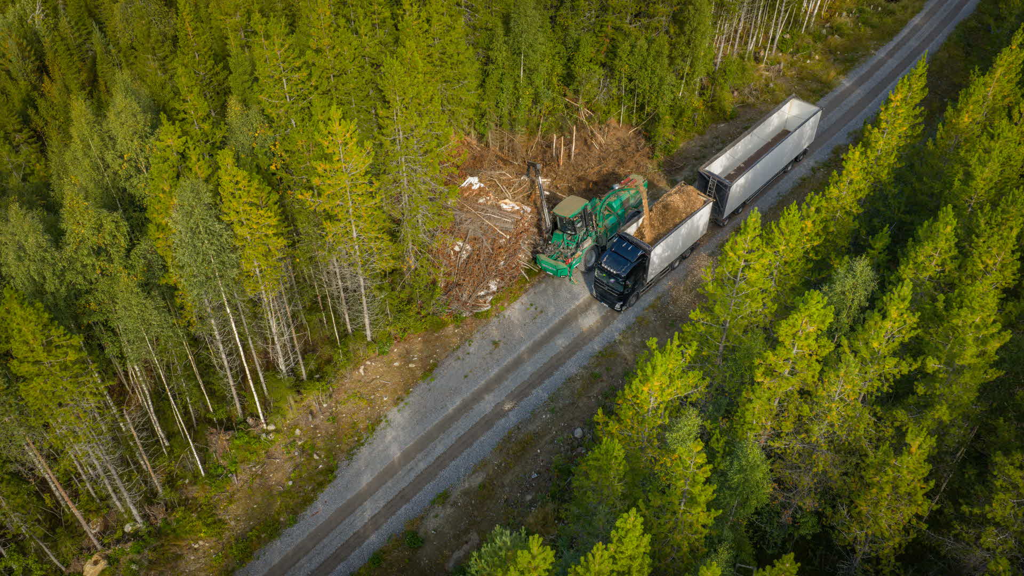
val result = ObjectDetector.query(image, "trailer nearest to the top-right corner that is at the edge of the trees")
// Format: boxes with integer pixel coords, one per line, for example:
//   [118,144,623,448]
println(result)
[695,96,823,226]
